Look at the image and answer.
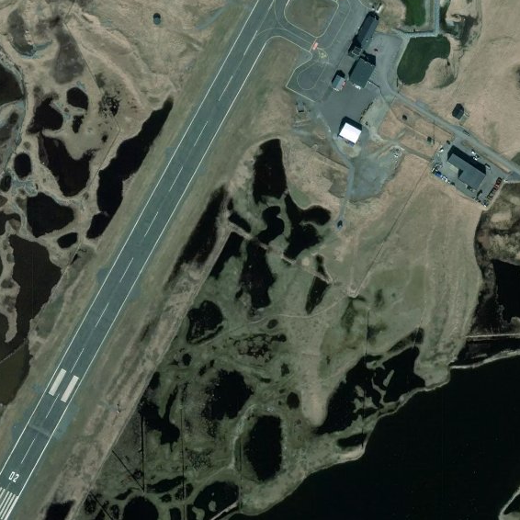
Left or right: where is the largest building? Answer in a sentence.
It is on the right.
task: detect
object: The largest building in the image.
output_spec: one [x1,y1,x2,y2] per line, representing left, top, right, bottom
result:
[450,152,489,188]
